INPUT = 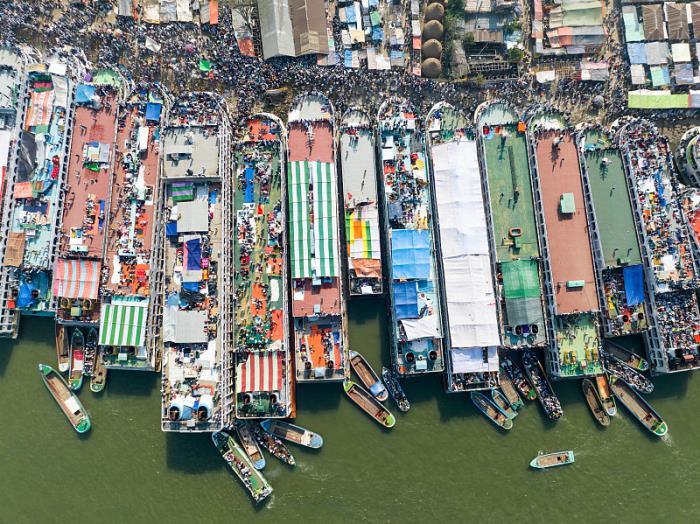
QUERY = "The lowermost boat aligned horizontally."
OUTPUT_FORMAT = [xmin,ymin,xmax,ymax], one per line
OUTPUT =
[530,452,574,469]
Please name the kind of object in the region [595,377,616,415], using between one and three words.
boat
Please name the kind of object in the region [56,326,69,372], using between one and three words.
boat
